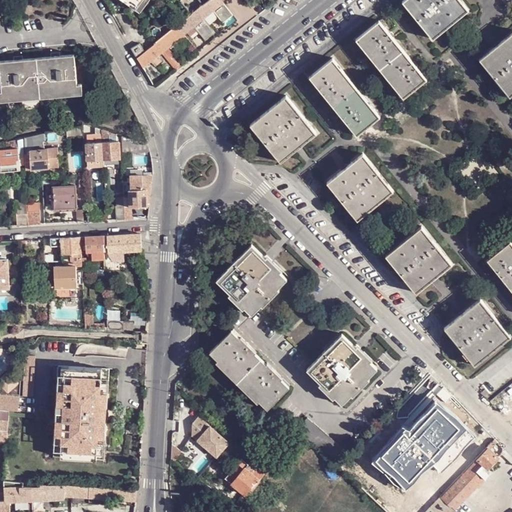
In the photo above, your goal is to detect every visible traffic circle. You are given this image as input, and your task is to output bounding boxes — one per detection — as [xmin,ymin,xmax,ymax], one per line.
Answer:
[168,138,234,204]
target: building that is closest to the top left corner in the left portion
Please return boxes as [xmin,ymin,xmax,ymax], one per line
[0,52,84,108]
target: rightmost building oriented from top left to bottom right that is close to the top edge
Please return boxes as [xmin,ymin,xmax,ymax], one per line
[356,18,427,100]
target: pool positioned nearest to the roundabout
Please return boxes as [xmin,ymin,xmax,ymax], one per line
[132,154,149,168]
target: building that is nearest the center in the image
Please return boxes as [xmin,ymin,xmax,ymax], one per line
[216,243,288,318]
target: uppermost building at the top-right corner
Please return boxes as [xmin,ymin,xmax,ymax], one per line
[402,0,468,41]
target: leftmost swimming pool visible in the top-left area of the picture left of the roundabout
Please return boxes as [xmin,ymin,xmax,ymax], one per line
[46,130,62,147]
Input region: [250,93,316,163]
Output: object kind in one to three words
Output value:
building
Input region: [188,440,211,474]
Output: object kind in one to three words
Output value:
swimming pool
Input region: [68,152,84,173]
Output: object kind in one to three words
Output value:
swimming pool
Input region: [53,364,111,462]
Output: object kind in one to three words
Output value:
house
